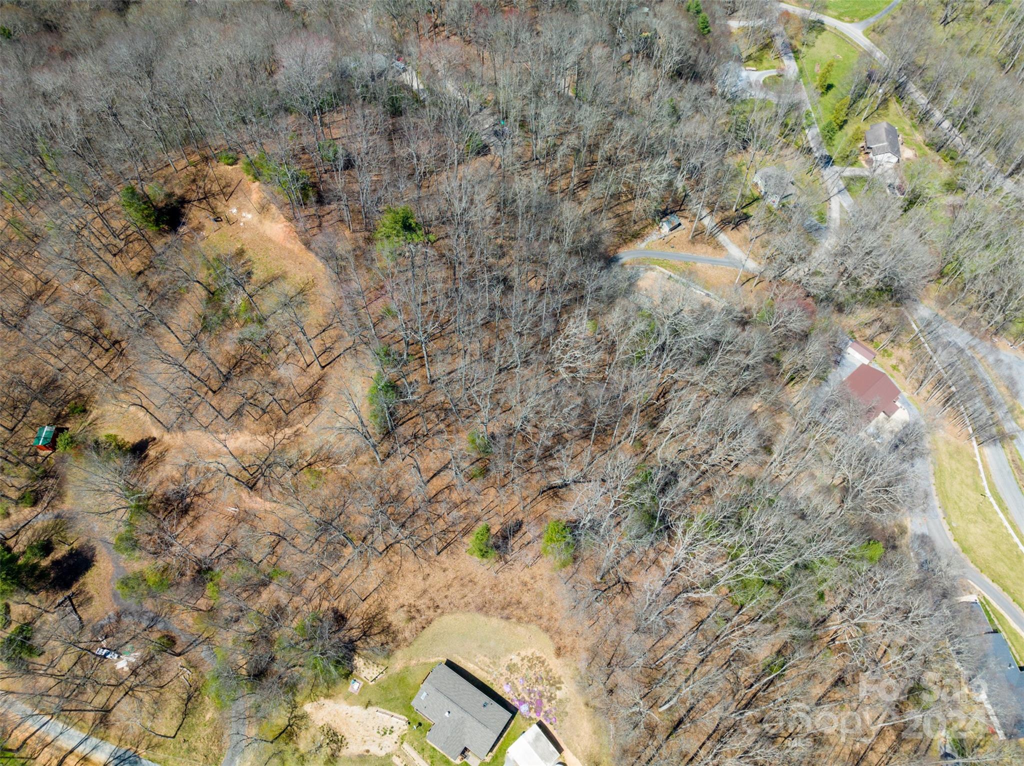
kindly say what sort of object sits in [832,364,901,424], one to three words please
house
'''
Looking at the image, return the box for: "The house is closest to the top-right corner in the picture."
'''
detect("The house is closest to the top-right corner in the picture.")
[859,120,902,170]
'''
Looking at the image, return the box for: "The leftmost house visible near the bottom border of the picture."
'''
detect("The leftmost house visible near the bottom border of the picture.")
[411,662,512,765]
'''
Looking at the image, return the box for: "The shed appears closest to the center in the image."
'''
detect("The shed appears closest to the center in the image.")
[660,214,683,236]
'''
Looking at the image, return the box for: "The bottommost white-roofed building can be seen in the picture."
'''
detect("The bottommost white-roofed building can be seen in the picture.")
[507,724,560,766]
